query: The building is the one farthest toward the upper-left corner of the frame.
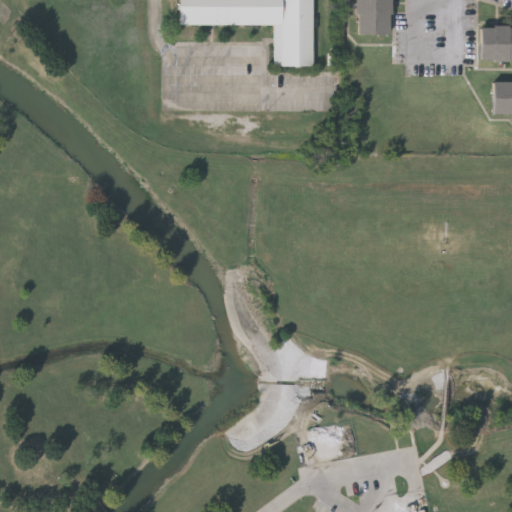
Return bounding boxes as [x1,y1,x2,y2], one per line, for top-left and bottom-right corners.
[180,0,314,66]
